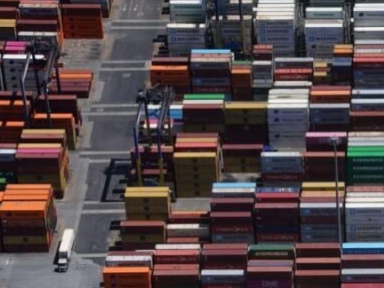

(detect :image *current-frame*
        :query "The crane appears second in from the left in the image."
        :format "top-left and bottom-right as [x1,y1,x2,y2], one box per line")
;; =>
[126,81,176,202]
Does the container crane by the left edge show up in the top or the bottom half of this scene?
top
